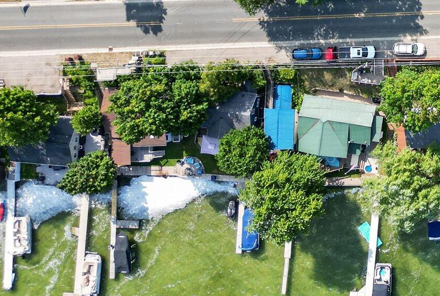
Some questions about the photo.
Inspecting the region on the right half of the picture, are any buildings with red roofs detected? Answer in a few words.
No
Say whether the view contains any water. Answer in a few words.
Yes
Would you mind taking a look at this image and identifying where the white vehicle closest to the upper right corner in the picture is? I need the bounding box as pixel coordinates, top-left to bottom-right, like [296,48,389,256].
[393,42,425,56]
